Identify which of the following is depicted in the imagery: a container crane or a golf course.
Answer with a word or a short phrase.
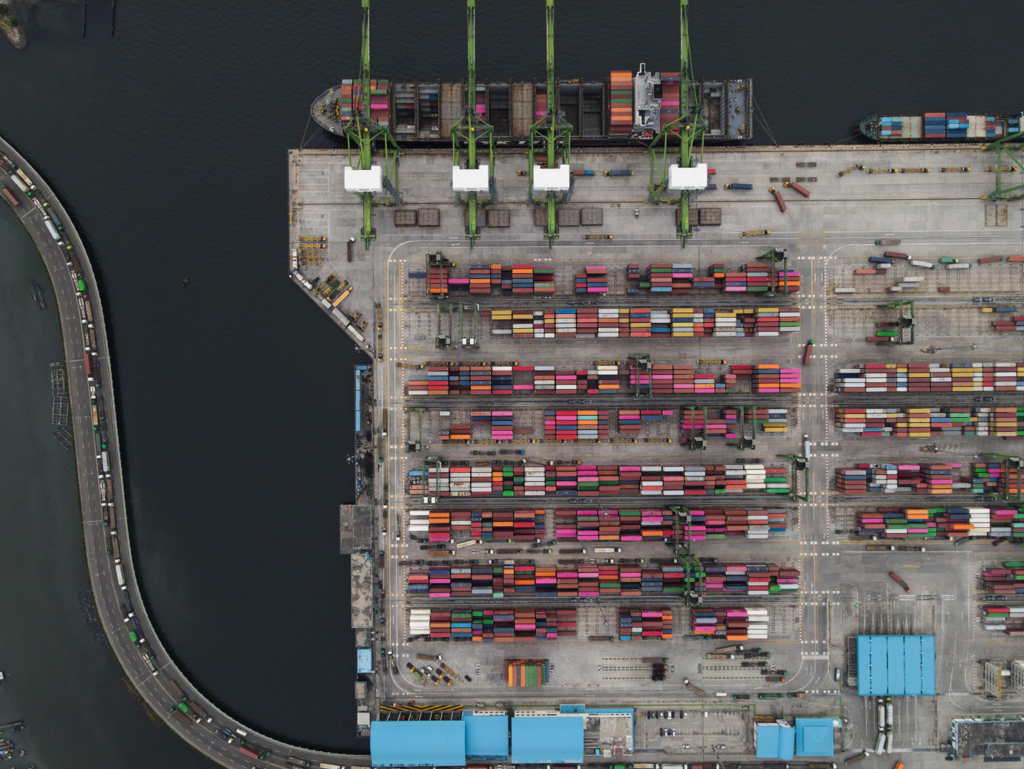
container crane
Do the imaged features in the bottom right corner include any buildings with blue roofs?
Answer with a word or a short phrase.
Yes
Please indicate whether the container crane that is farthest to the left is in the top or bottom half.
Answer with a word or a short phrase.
top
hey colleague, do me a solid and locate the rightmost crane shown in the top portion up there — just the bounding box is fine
[976,132,1024,205]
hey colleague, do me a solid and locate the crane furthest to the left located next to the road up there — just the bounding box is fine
[344,0,407,251]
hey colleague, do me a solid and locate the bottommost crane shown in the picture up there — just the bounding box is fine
[673,553,704,607]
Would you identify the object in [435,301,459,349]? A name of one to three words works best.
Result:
container crane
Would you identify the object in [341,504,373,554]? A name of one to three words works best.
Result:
building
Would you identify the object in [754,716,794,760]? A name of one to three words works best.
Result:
building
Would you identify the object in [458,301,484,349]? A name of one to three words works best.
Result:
container crane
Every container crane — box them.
[421,456,448,506]
[519,0,576,251]
[424,251,452,301]
[458,301,484,349]
[677,403,708,451]
[976,132,1024,205]
[435,301,459,349]
[774,453,810,502]
[875,298,917,346]
[662,502,692,554]
[977,452,1024,501]
[724,403,758,450]
[625,354,652,400]
[447,0,503,251]
[344,0,407,251]
[641,0,707,251]
[673,553,704,607]
[753,249,789,299]
[406,405,431,453]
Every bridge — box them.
[0,137,429,769]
